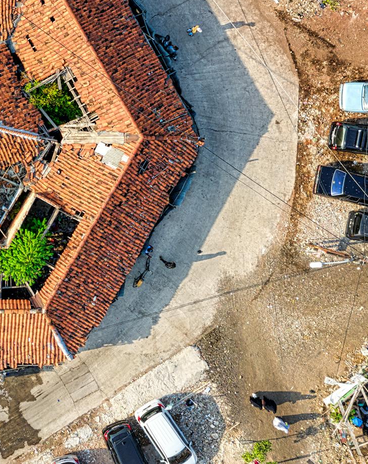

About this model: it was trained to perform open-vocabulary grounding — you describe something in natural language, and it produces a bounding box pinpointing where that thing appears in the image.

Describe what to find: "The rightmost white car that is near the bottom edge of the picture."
[133,387,193,464]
